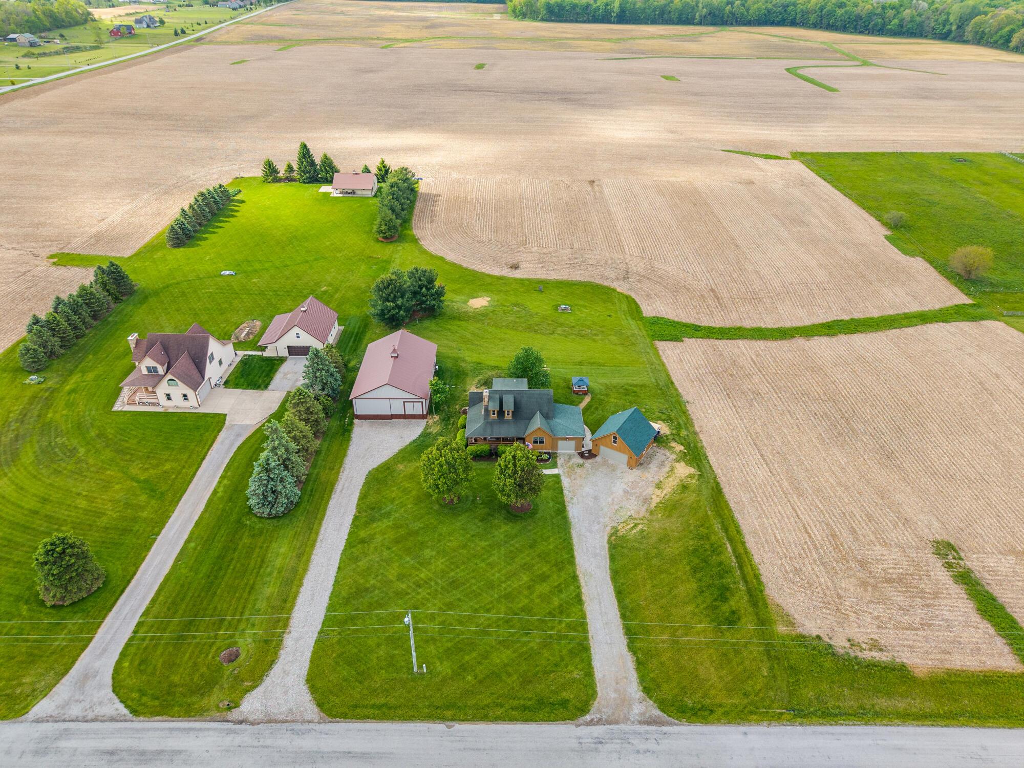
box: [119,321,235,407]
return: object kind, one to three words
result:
house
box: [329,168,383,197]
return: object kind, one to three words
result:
building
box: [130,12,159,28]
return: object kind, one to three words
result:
house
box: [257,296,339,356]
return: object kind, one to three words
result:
building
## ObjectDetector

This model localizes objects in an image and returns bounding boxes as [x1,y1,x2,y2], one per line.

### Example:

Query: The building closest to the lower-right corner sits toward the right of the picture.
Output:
[589,407,658,468]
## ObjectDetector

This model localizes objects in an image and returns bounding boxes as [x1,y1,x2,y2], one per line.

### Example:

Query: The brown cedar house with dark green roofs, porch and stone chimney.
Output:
[465,378,587,453]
